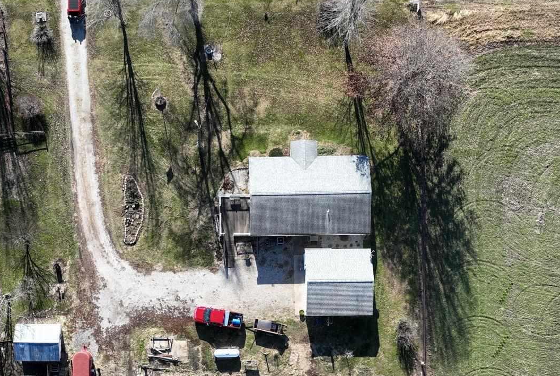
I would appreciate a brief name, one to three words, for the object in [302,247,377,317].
building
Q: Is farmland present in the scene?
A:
Yes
